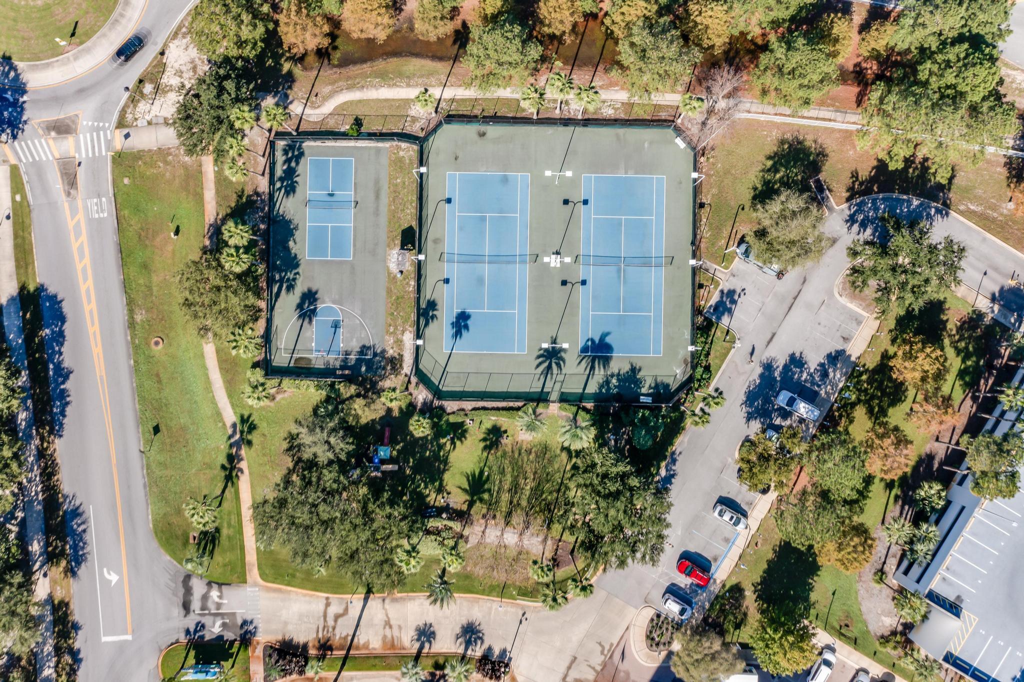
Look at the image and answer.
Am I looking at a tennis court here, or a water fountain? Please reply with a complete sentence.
It is a tennis court that can be seen here.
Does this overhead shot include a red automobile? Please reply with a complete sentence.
Yes, a red automobile appears in the view.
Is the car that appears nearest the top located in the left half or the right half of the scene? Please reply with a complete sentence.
It is on the left.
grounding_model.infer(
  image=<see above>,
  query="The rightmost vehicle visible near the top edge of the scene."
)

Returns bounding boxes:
[111,33,149,66]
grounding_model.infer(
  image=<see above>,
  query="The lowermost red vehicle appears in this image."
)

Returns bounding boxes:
[675,558,713,588]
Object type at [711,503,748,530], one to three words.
car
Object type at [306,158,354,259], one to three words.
sports court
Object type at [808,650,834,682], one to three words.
car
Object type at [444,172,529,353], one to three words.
tennis court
